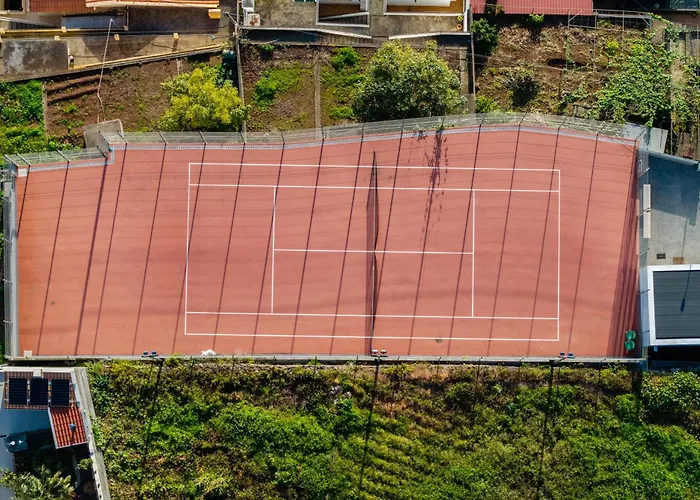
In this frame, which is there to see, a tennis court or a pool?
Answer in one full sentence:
The one in the frame is a tennis court.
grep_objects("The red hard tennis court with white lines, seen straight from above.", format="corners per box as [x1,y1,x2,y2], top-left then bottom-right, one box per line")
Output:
[12,126,639,358]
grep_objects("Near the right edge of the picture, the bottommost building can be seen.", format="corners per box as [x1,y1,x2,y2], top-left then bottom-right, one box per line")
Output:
[645,264,700,352]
